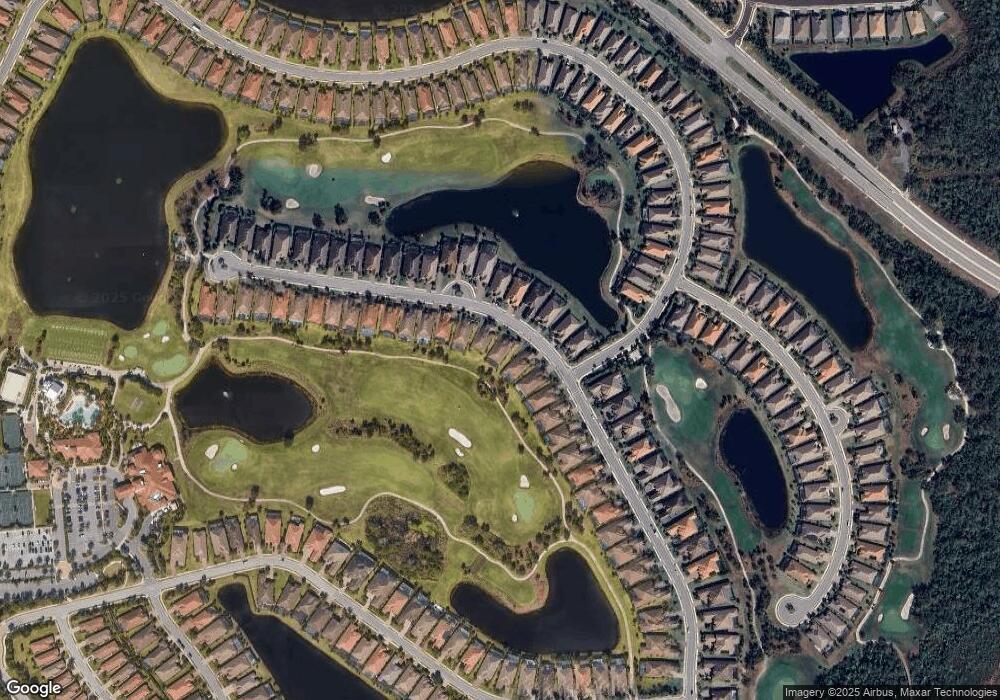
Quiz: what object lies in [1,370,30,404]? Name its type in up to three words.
sports court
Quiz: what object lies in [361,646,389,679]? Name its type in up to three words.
house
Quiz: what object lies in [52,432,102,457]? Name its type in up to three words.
building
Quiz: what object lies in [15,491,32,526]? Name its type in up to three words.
tennis court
